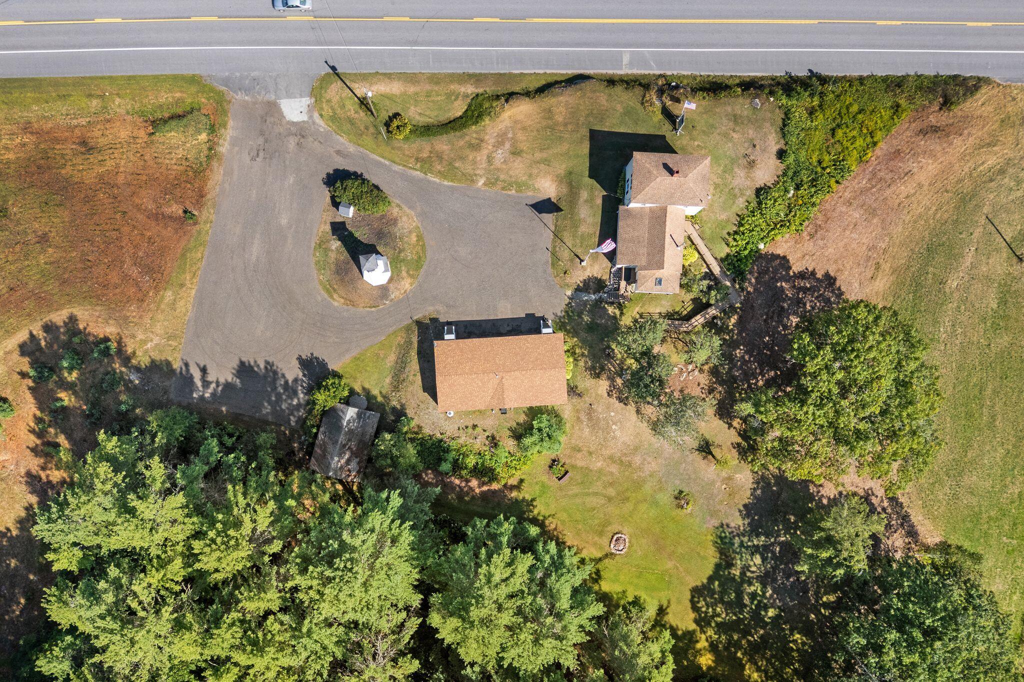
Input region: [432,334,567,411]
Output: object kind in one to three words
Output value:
building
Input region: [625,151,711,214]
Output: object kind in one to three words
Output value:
house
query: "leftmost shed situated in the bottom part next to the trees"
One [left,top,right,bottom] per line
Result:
[310,404,381,482]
